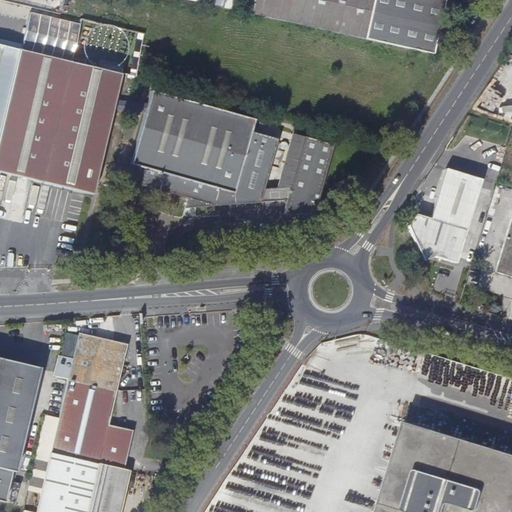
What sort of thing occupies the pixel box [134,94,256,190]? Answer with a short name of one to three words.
building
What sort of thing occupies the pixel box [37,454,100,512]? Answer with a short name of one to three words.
building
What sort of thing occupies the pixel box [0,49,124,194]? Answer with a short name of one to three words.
warehouse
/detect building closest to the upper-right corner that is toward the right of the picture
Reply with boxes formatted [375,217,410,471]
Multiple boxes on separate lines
[368,0,446,53]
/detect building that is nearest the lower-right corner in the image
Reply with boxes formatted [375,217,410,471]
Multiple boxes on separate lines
[374,422,512,512]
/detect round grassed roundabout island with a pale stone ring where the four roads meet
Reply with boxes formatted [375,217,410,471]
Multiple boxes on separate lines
[290,249,372,332]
